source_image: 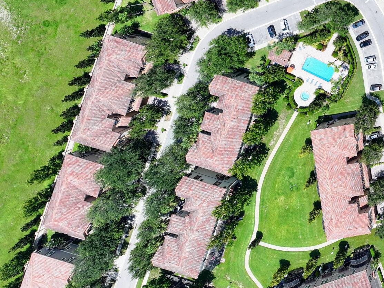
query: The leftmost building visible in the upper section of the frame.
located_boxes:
[71,33,162,153]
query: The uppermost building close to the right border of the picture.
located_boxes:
[307,116,380,242]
